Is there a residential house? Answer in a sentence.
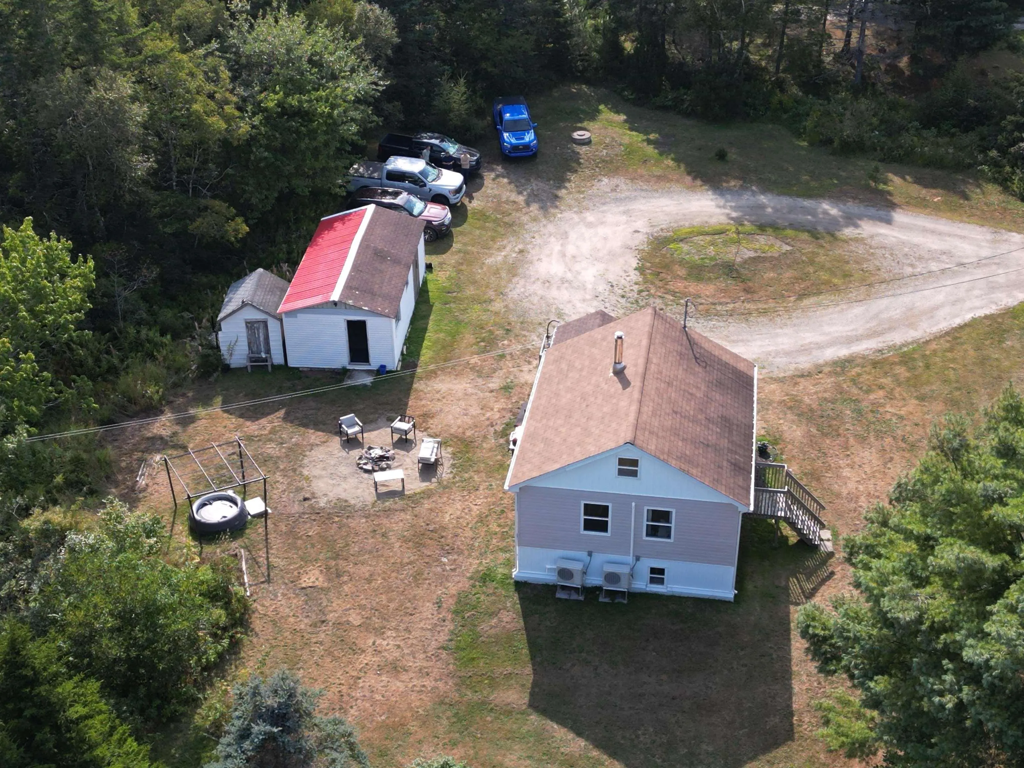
Yes, there is a residential house in the image.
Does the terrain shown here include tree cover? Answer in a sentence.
Yes, tree cover shows up in the scene.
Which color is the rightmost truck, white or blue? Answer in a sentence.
The color of the rightmost truck is blue.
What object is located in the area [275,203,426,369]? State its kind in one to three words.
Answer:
building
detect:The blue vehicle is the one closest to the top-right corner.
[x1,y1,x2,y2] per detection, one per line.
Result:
[497,105,538,162]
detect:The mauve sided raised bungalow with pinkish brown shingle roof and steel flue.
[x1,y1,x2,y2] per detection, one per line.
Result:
[502,296,760,602]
